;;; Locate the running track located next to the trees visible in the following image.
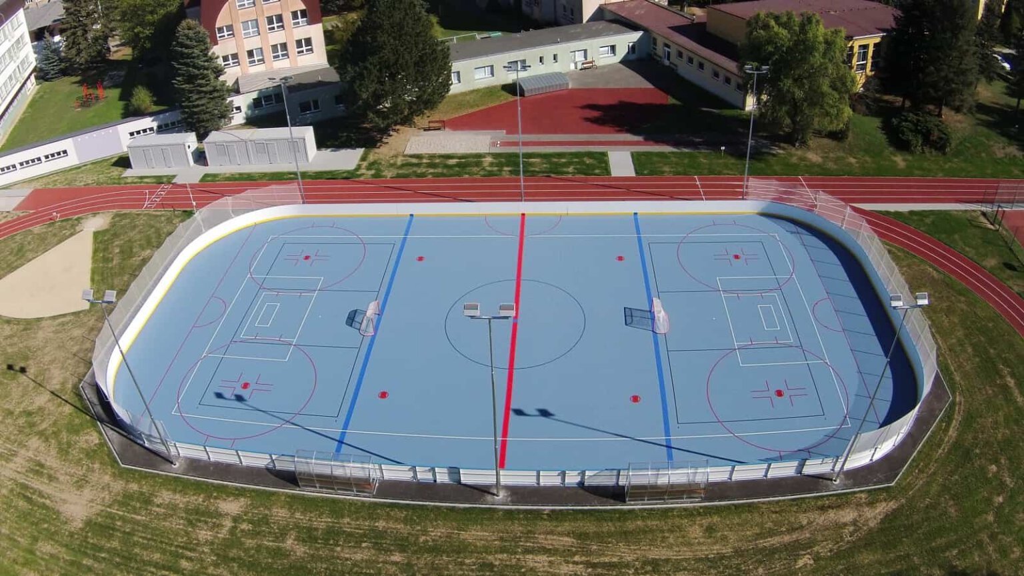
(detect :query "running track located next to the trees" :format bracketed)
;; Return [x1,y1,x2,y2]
[0,176,1024,238]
